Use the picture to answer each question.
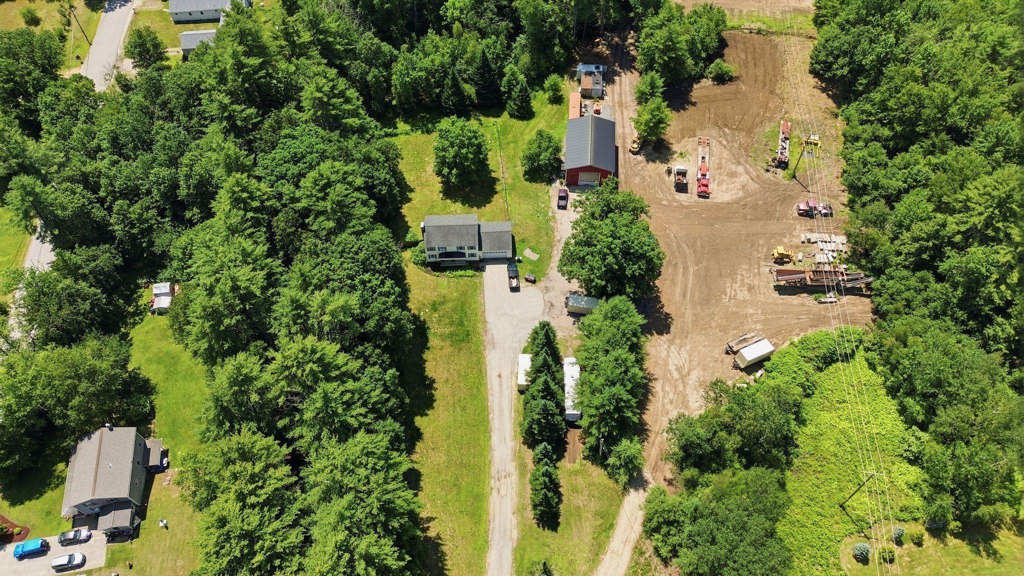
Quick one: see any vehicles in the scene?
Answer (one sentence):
Yes, a vehicle can be made out from above.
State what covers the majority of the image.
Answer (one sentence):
The largest share of the image is taken up by trees.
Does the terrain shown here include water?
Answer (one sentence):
No, water can't be seen anywhere here.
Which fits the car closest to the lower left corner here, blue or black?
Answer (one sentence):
In this view, the car closest to the lower left corner is blue.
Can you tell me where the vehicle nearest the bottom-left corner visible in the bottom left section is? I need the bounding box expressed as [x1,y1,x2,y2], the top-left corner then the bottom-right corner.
[9,536,46,559]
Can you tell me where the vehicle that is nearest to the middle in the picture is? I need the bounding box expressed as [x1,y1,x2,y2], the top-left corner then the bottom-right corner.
[507,262,520,289]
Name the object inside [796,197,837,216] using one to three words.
vehicle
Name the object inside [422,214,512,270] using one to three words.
house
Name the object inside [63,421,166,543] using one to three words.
building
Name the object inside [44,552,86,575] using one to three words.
car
